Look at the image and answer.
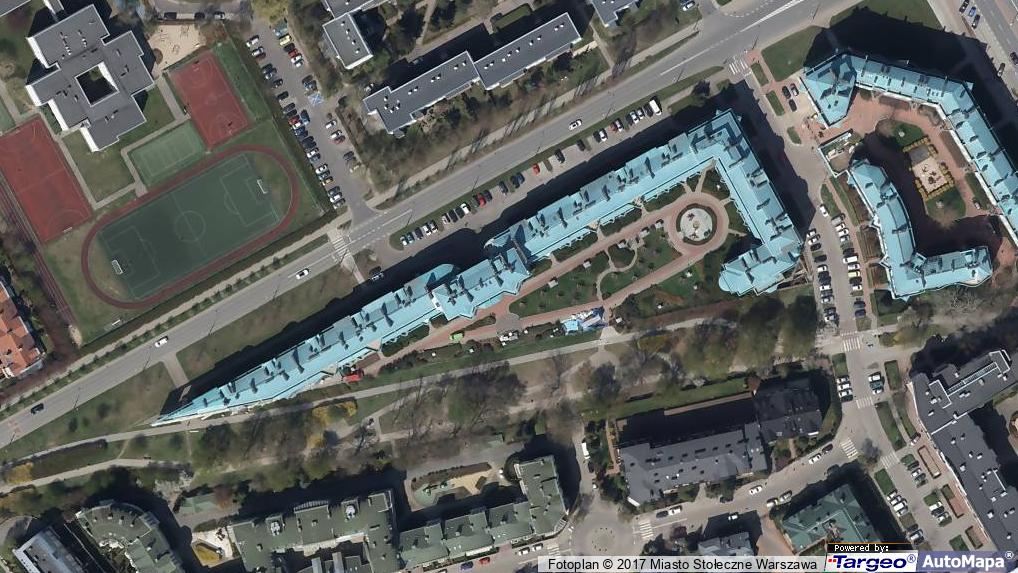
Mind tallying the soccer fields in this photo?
1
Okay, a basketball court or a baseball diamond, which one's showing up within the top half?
basketball court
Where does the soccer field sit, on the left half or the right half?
left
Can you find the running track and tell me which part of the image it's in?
left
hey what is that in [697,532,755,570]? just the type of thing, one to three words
house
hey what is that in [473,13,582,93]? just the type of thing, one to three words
building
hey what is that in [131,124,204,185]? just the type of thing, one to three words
sports court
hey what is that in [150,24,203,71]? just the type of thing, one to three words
playground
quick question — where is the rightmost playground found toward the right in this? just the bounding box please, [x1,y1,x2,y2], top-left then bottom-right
[913,157,947,193]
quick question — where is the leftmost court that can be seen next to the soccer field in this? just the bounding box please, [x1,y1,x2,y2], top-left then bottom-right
[0,115,92,244]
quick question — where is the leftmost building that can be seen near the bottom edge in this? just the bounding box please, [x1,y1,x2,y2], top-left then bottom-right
[12,528,86,573]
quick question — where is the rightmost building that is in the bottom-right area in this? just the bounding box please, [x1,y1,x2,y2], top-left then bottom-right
[906,349,1018,573]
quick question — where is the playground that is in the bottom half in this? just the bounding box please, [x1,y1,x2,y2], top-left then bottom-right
[411,463,494,512]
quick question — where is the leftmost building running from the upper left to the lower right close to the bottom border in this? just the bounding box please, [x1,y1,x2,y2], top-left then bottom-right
[73,497,189,573]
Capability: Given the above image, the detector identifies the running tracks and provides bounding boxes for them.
[83,145,299,309]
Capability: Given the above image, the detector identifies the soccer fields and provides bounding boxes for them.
[98,154,278,298]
